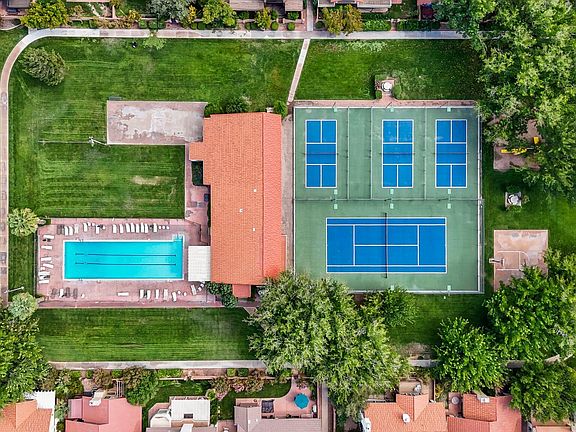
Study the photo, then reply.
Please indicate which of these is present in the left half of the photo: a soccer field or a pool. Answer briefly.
pool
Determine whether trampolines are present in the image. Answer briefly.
No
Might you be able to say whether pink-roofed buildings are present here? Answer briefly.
Yes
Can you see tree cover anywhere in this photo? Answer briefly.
Yes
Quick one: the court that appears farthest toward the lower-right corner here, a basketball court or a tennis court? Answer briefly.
basketball court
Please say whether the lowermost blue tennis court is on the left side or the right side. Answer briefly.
right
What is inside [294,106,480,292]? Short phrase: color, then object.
green sports court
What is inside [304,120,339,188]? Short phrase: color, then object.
blue sports court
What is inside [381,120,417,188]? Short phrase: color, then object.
blue sports court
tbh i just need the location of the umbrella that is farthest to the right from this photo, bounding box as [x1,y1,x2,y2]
[294,394,309,410]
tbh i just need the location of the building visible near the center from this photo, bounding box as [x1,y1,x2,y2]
[189,107,287,299]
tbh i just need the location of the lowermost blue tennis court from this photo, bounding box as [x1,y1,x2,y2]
[326,213,447,278]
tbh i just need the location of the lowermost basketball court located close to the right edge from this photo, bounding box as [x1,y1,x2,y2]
[494,230,548,299]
